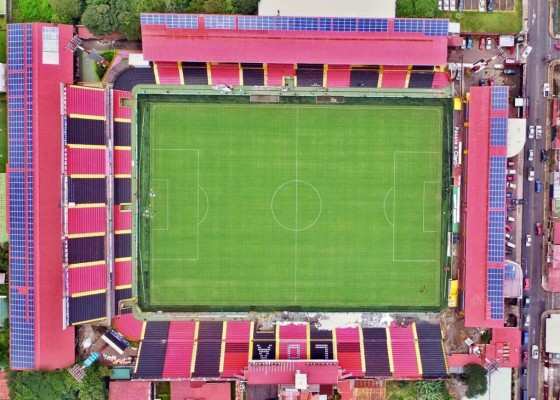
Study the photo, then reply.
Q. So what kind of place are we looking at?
sports ground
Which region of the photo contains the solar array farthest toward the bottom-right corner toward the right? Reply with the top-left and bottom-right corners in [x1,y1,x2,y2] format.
[488,268,505,320]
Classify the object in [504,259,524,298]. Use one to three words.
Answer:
building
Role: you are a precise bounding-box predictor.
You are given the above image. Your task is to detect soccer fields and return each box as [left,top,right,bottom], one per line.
[150,103,444,306]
